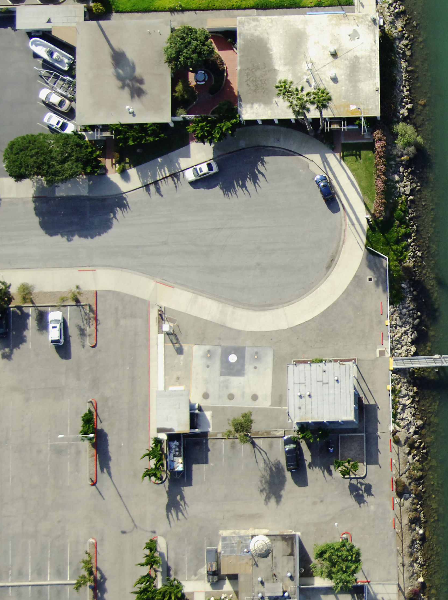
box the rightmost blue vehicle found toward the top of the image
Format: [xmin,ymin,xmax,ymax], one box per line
[316,173,335,203]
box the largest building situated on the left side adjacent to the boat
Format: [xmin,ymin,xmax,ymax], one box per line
[76,18,174,127]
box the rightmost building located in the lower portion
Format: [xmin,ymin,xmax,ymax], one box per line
[286,360,360,429]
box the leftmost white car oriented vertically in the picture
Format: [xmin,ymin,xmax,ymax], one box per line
[49,311,67,348]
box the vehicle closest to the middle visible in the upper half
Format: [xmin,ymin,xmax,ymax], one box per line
[186,162,221,183]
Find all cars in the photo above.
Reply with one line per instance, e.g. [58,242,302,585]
[40,89,74,114]
[283,435,300,473]
[316,173,335,203]
[186,162,221,183]
[43,112,77,137]
[49,311,67,348]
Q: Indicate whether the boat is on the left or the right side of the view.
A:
left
